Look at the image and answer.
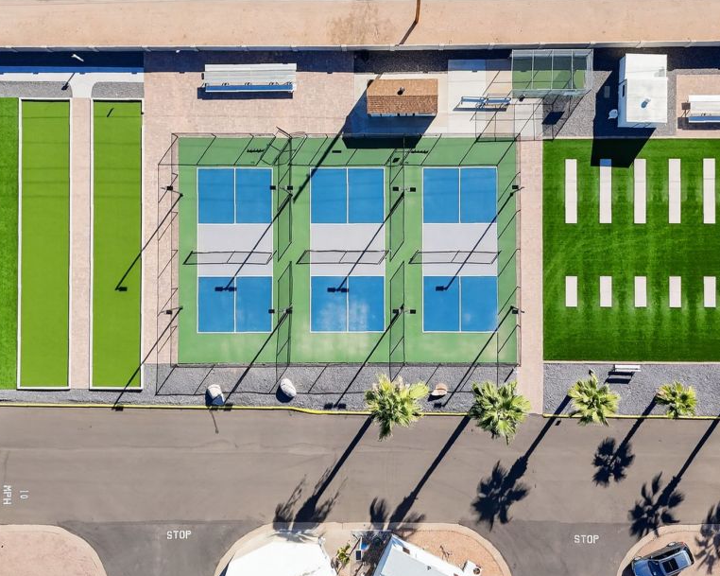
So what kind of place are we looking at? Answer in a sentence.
It's a sports ground.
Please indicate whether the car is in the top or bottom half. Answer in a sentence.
It is in the bottom half that the car appears.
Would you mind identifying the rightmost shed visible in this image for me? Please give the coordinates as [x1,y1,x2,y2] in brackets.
[610,54,668,132]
